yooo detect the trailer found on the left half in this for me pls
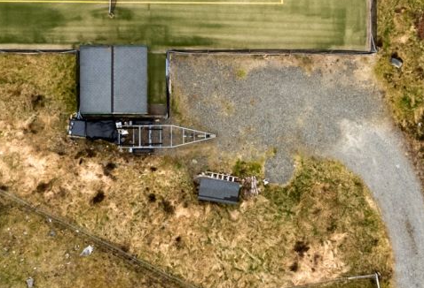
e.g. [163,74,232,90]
[119,120,218,153]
